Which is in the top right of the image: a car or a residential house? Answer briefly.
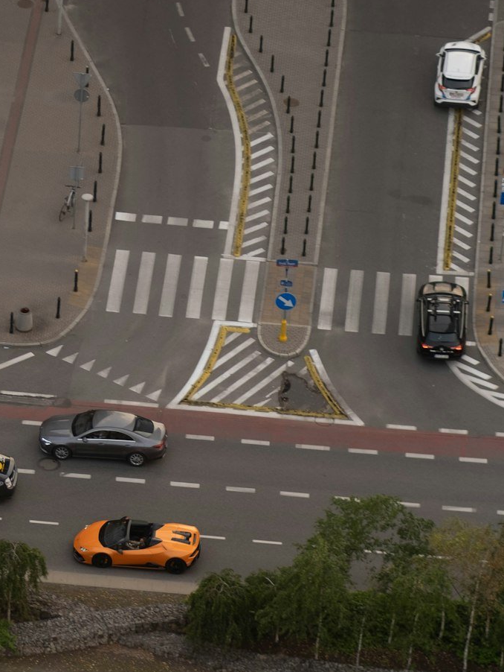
car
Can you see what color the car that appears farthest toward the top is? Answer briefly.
white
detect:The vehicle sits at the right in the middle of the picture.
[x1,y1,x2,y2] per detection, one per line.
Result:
[417,289,471,363]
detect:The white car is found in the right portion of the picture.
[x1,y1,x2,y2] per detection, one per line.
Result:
[436,42,488,107]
